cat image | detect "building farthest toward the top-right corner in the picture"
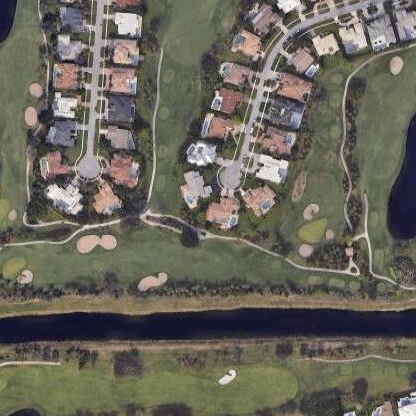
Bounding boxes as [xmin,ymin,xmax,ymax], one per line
[395,8,416,39]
